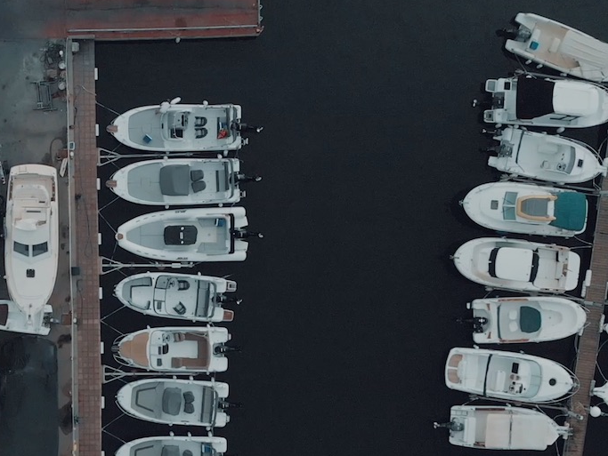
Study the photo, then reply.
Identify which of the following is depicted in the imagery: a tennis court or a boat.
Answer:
boat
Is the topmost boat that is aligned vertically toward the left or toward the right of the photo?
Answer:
left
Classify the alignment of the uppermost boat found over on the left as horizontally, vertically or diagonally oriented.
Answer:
horizontally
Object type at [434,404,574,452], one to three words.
boat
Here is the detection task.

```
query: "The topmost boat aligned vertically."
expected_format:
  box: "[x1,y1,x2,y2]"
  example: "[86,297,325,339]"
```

[5,164,59,327]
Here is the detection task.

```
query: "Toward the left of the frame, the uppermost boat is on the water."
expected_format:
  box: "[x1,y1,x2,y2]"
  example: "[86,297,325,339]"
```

[107,96,261,154]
